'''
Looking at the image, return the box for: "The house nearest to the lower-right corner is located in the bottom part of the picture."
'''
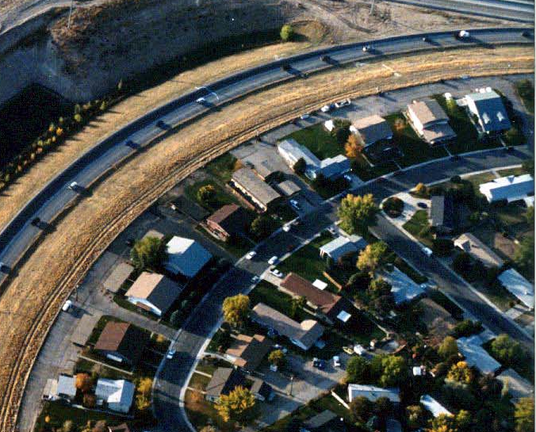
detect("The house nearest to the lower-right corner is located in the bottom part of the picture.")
[499,371,536,400]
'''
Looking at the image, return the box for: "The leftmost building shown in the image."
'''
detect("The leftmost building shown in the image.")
[53,376,80,402]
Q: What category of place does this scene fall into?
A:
residential area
